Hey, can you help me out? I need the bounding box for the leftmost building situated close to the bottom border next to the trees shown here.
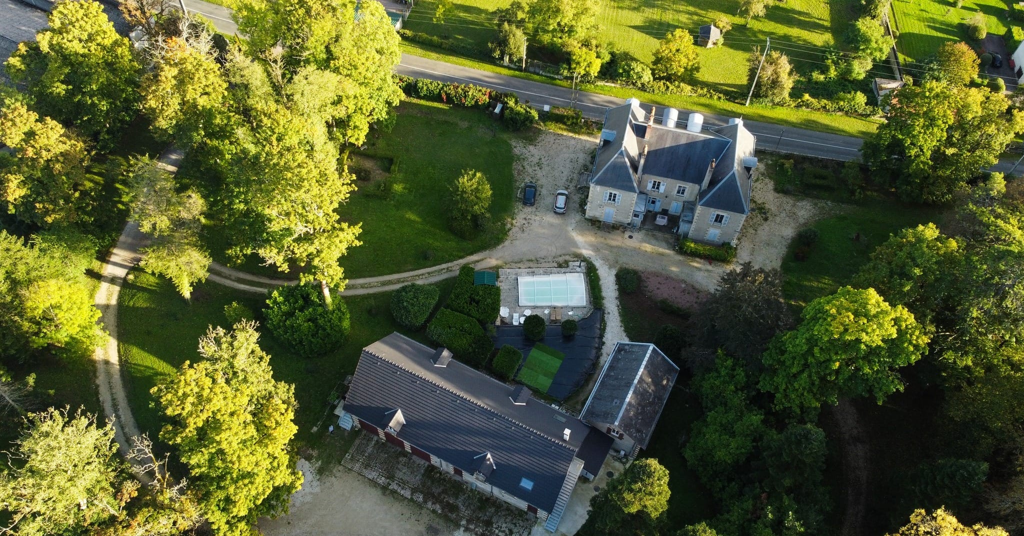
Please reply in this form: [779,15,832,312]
[334,331,593,535]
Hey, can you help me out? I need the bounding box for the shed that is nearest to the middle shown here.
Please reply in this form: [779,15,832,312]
[474,264,496,286]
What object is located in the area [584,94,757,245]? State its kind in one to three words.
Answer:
house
